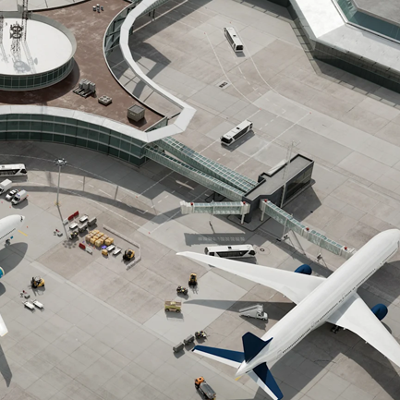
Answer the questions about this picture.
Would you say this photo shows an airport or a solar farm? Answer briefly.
airport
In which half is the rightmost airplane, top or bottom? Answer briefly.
bottom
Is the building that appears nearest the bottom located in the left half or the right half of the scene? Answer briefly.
right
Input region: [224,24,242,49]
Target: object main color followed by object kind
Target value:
white vehicle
